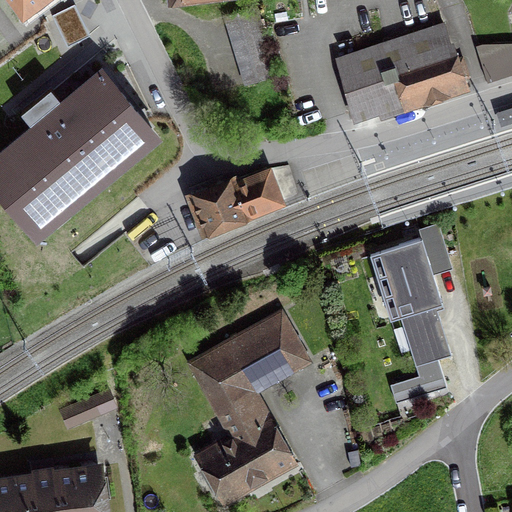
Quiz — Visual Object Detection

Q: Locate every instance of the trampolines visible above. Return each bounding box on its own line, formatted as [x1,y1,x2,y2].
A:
[143,494,159,510]
[36,36,52,52]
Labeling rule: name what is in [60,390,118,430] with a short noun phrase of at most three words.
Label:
shed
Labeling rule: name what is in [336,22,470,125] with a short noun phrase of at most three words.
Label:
building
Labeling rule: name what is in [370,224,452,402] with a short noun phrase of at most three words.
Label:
house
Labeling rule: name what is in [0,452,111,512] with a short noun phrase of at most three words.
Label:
house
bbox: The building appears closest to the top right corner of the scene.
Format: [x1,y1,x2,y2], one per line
[476,42,512,84]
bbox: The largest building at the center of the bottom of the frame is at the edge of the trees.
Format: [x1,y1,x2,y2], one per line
[188,308,312,506]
